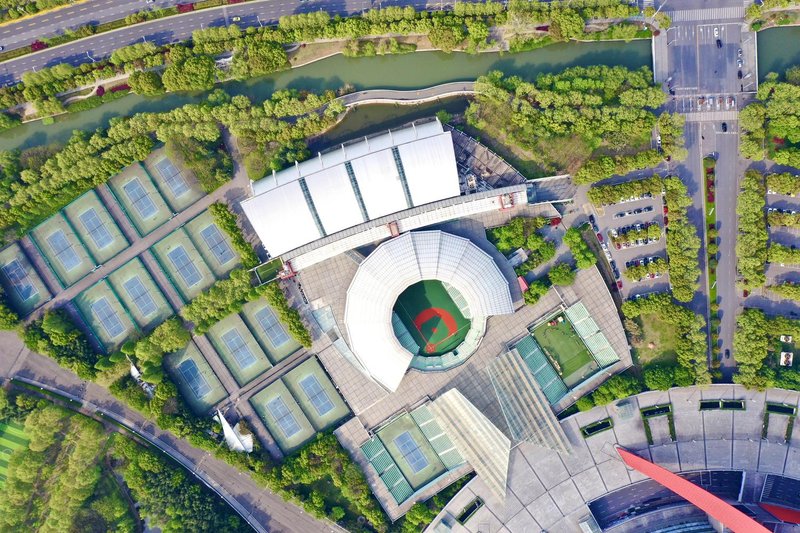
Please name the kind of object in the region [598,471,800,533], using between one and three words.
stadium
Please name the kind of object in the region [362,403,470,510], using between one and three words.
tennis court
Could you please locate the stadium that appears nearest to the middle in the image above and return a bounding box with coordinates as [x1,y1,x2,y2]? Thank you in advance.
[344,231,514,392]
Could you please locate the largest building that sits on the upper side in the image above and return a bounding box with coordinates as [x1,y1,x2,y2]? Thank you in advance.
[238,116,462,258]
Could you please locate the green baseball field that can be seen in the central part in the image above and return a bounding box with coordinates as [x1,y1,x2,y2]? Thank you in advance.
[393,281,470,356]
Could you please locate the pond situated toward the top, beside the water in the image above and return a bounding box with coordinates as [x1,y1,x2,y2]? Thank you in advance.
[291,92,473,164]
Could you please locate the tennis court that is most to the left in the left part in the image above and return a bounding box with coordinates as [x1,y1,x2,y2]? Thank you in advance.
[0,245,50,318]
